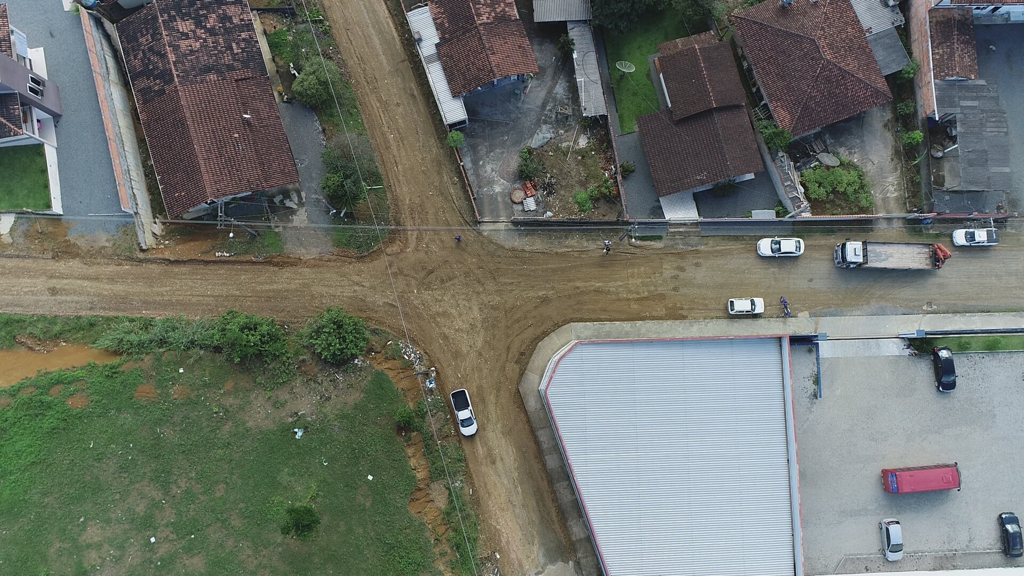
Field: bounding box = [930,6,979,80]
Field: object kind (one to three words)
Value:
building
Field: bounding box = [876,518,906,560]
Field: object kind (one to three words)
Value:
car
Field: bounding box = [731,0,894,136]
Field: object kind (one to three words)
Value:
house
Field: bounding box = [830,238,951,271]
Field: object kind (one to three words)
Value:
truck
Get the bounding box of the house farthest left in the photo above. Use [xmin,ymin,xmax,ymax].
[0,2,61,149]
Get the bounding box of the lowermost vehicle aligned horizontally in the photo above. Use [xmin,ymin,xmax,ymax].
[882,464,964,496]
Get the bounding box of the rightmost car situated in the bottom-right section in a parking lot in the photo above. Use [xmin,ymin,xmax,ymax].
[992,513,1024,558]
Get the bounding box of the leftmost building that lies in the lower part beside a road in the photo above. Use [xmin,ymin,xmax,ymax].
[540,338,803,576]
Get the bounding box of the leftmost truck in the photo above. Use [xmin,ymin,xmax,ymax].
[450,389,479,437]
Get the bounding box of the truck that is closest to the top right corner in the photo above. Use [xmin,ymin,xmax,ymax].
[949,227,1001,249]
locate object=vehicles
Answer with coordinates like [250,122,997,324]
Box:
[876,518,906,560]
[929,348,960,392]
[450,389,479,437]
[726,295,764,317]
[755,235,804,259]
[830,238,951,271]
[949,227,1001,249]
[992,513,1024,558]
[882,464,964,496]
[779,297,793,315]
